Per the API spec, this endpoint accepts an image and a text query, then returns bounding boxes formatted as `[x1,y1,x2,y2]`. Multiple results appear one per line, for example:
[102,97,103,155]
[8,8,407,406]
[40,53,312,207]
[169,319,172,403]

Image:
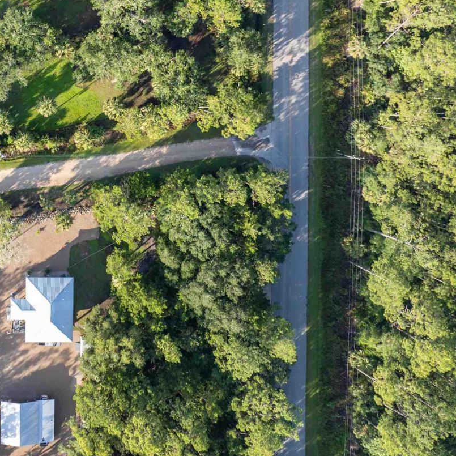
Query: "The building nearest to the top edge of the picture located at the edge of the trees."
[0,270,73,343]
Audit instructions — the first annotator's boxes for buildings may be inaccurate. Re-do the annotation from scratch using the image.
[0,270,73,343]
[0,396,55,450]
